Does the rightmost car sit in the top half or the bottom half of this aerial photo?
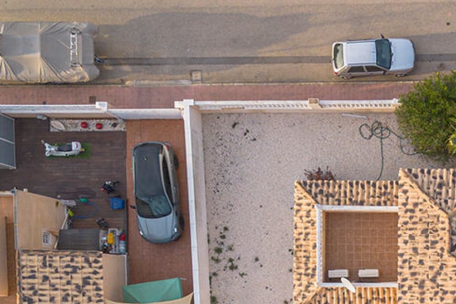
top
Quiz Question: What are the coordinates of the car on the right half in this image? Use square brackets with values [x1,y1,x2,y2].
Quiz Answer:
[333,33,417,80]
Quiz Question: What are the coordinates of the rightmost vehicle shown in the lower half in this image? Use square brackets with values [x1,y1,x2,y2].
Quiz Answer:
[131,142,185,243]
